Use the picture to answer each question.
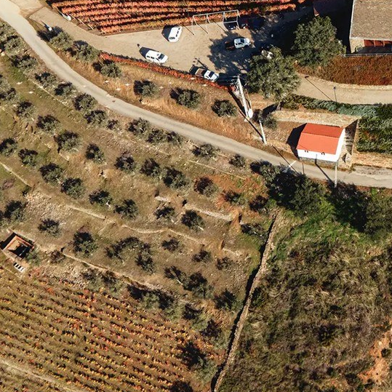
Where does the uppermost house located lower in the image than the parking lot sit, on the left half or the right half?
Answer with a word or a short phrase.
right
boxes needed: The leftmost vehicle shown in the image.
[142,47,167,64]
